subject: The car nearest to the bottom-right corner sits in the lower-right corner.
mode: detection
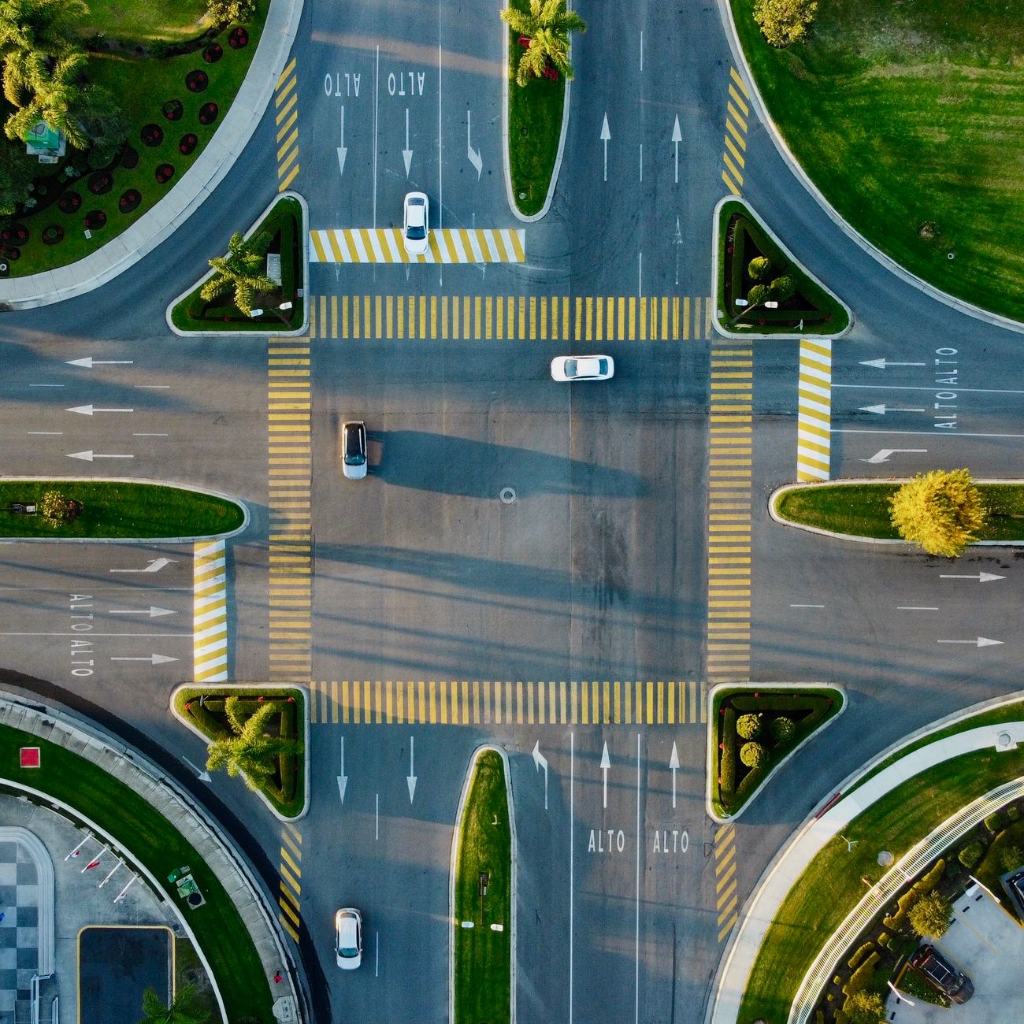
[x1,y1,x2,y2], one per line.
[910,939,968,1003]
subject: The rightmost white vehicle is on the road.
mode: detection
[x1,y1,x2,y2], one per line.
[551,354,613,383]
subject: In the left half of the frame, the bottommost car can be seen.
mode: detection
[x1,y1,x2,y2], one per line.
[334,905,362,966]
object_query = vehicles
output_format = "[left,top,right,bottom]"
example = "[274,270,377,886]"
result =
[402,192,430,256]
[551,354,613,383]
[910,939,968,1003]
[341,422,368,478]
[334,905,362,966]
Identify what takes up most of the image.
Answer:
paved ground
